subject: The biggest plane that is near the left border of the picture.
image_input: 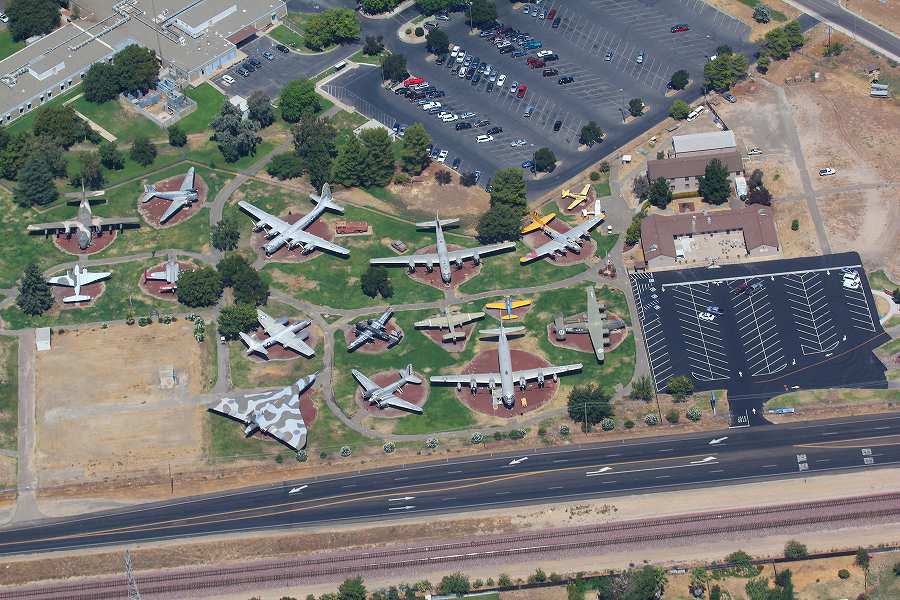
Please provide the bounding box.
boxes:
[26,184,139,251]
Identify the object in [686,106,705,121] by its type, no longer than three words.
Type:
car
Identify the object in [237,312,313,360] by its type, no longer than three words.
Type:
airplane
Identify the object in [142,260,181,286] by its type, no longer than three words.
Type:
airplane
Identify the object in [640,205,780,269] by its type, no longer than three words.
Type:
building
